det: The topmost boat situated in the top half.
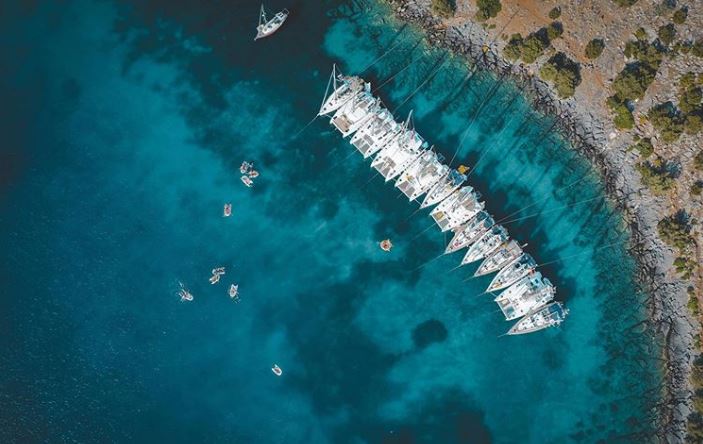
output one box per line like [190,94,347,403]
[255,8,290,41]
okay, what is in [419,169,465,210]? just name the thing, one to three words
boat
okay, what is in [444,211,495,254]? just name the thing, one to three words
boat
